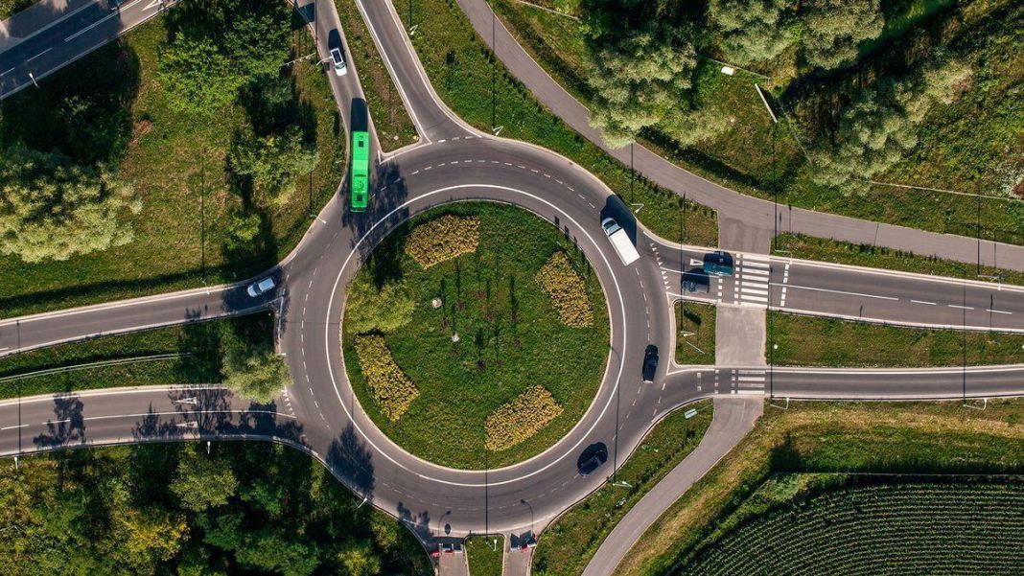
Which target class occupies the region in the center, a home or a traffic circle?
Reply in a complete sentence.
What appears in the center is a traffic circle.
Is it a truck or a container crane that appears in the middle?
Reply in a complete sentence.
It is a truck that can be seen in the middle.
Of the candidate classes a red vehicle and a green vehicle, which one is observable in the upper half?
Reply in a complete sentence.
It is a green vehicle that can be seen in the upper half.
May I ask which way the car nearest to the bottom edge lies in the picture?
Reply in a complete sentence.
From this overhead view, the car nearest to the bottom edge appears to run on a diagonal.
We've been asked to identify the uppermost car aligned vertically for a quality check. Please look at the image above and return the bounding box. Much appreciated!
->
[329,46,347,77]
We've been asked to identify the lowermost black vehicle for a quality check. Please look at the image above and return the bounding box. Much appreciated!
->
[577,447,606,475]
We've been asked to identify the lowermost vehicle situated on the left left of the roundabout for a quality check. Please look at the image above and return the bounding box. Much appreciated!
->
[246,275,277,297]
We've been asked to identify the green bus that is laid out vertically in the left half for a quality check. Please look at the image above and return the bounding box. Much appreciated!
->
[349,131,369,215]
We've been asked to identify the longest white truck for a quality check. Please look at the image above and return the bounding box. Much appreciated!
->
[601,216,640,266]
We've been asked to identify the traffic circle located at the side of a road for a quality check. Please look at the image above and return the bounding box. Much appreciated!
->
[282,137,670,532]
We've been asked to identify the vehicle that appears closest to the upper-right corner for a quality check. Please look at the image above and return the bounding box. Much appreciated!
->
[703,260,733,275]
